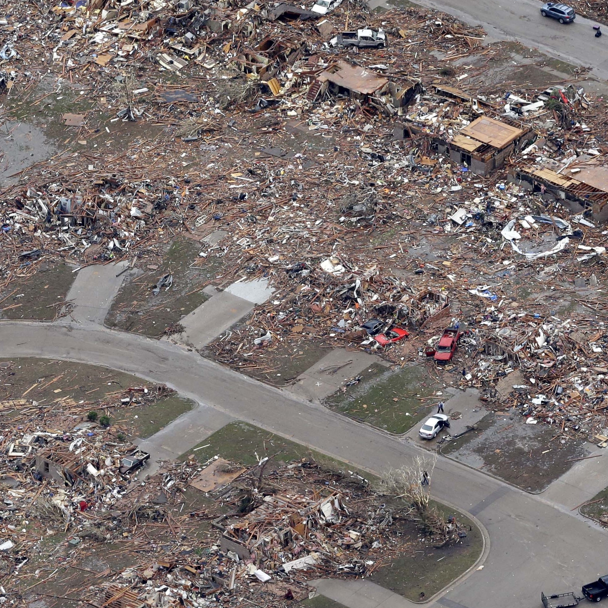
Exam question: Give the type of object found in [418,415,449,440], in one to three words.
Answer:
car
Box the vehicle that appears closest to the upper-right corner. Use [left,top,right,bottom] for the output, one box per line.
[538,1,577,23]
